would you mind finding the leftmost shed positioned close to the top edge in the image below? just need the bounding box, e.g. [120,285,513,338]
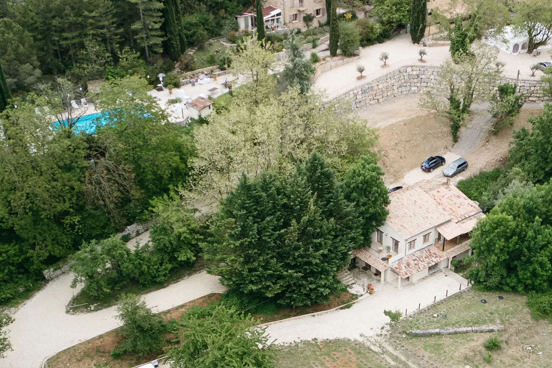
[235,12,253,41]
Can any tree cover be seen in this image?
Yes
